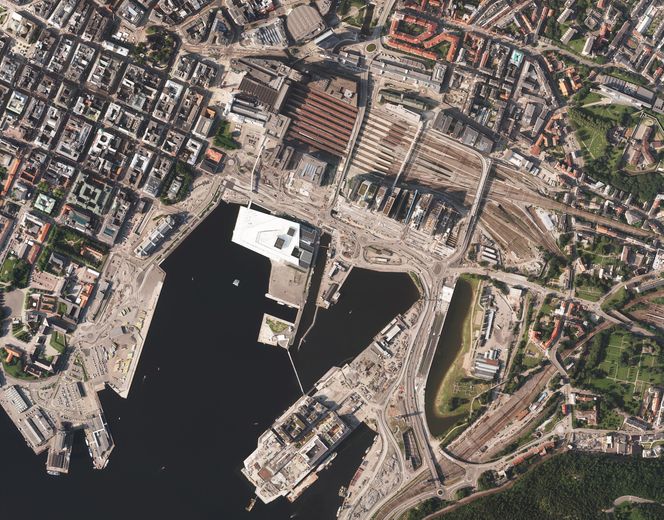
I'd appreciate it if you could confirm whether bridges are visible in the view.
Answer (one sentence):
Yes, a bridge is visible in the scene.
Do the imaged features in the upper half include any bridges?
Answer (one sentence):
Yes, looking in the upper half, one can make out a bridge.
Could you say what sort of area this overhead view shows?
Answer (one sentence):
It's a port.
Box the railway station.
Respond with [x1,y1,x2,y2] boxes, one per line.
[224,57,403,177]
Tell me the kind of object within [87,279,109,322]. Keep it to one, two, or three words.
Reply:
building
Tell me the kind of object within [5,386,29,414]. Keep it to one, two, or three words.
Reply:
shed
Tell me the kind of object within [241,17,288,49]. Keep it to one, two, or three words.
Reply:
building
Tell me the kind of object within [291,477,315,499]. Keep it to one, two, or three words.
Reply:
ship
